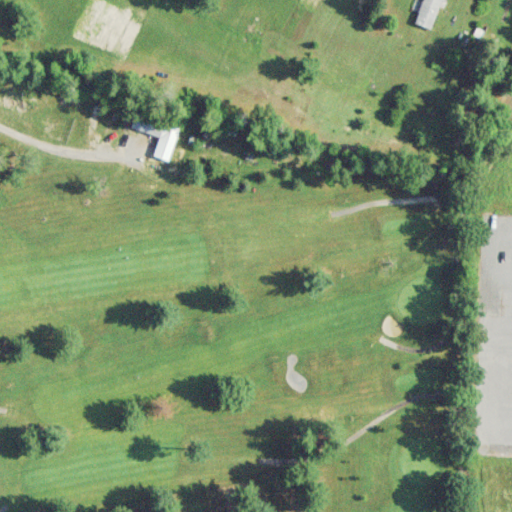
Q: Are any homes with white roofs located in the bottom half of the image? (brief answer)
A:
No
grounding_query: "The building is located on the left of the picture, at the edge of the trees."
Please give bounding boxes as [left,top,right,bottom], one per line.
[136,122,180,164]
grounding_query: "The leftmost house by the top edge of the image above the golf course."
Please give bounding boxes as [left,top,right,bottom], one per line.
[416,0,448,30]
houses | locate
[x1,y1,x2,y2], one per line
[136,122,180,164]
[416,0,448,30]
